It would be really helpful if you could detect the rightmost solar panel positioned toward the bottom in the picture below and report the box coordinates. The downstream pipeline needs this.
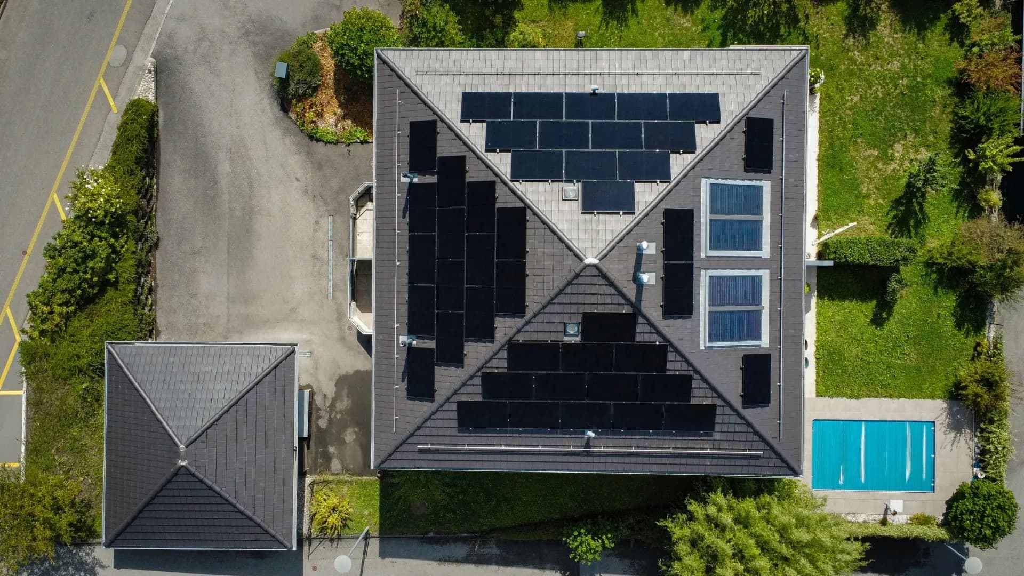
[743,354,770,406]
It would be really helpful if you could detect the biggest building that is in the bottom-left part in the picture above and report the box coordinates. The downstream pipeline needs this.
[104,342,299,551]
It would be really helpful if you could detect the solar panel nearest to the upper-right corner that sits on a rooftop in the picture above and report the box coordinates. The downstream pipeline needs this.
[744,117,772,171]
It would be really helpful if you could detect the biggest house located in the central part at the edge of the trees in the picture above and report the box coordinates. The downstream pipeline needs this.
[348,46,809,478]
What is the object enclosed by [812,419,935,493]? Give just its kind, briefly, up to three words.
swimming pool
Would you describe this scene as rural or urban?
urban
